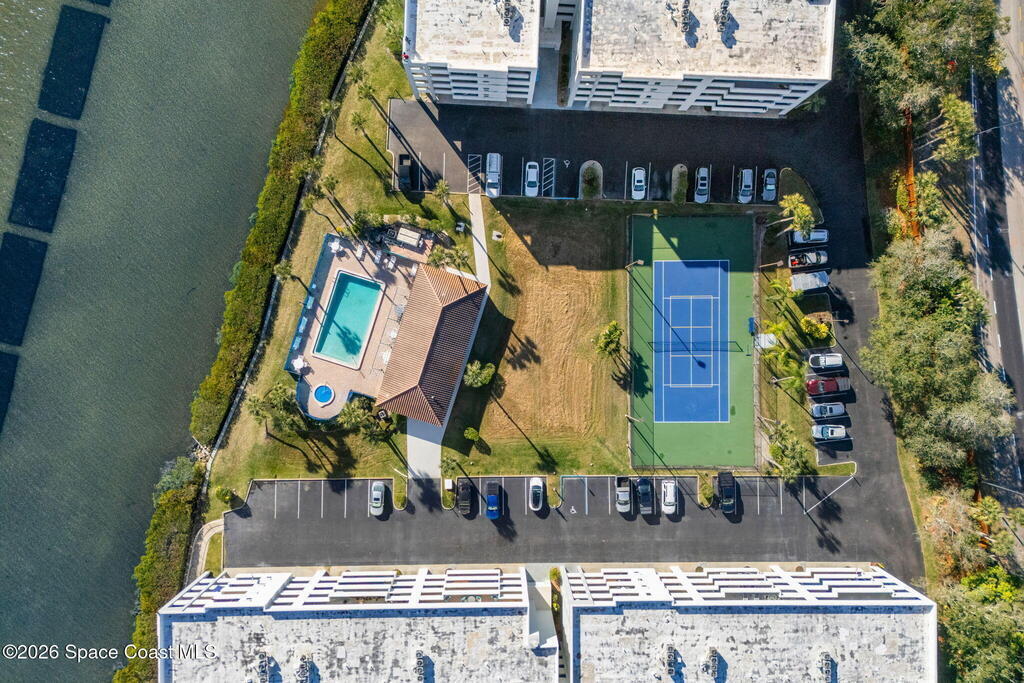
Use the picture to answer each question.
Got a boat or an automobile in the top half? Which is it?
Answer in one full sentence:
Looking in the top half, you will find an automobile.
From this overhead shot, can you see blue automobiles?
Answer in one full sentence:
Yes, looking at the shot, I can spot a blue automobile.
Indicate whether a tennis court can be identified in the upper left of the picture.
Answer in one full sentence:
No, no tennis court can be made out in the upper left of the picture.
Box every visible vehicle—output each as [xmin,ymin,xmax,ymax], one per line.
[811,402,845,418]
[485,479,501,520]
[787,251,828,268]
[637,477,653,515]
[631,167,646,200]
[792,229,828,245]
[369,481,385,516]
[397,153,412,191]
[616,475,631,513]
[529,477,544,511]
[457,479,472,513]
[806,378,851,395]
[718,471,736,514]
[808,353,843,369]
[737,169,754,204]
[524,162,539,197]
[693,168,710,203]
[661,479,677,514]
[485,152,502,198]
[761,169,777,202]
[811,424,846,440]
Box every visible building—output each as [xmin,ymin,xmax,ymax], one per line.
[567,0,836,118]
[156,567,530,683]
[402,0,542,109]
[397,228,422,246]
[560,566,938,683]
[376,263,487,427]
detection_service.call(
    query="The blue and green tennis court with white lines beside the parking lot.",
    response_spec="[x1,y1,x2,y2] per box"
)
[626,213,764,472]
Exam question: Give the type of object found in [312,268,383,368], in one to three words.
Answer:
swimming pool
